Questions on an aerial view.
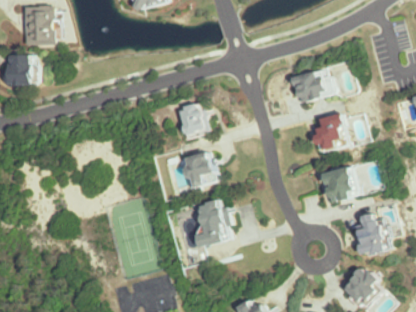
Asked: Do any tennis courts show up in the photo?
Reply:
Yes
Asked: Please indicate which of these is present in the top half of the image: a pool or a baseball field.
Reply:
pool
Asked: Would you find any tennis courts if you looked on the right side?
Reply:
No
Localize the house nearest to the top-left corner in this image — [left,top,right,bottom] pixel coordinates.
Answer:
[23,2,66,46]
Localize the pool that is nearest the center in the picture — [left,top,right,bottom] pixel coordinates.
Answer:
[168,156,190,195]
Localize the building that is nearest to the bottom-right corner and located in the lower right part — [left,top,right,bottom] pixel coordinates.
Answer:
[344,265,384,311]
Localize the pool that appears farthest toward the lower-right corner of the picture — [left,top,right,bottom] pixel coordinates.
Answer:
[366,290,400,312]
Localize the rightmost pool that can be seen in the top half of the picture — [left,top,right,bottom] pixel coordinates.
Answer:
[398,101,416,130]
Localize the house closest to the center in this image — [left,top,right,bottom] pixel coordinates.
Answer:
[185,150,222,188]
